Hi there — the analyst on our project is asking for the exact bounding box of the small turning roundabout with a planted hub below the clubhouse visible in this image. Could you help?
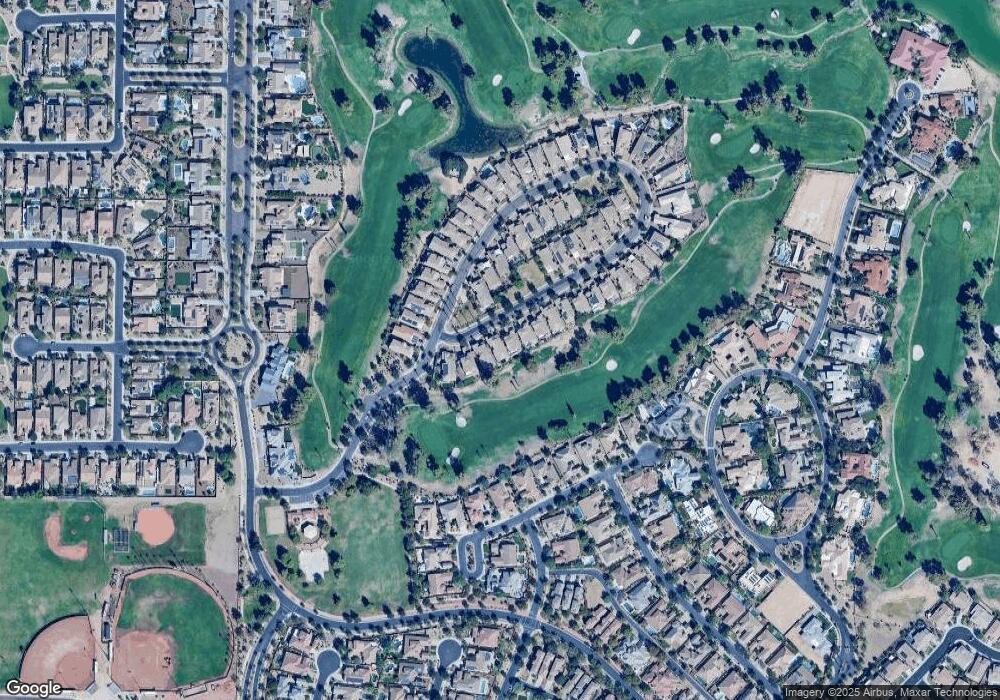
[892,77,926,111]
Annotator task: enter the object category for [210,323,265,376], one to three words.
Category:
roundabout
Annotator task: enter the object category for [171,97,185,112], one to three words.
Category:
swimming pool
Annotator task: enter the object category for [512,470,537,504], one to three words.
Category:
house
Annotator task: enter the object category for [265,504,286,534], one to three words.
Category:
sports court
